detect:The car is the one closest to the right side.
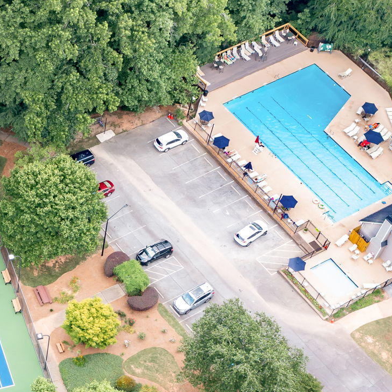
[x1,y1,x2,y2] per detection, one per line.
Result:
[235,220,271,247]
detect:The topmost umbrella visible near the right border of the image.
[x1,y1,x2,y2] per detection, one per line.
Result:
[361,103,379,123]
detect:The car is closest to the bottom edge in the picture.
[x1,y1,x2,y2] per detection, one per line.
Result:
[174,284,216,315]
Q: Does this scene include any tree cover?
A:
Yes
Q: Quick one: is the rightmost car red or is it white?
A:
white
